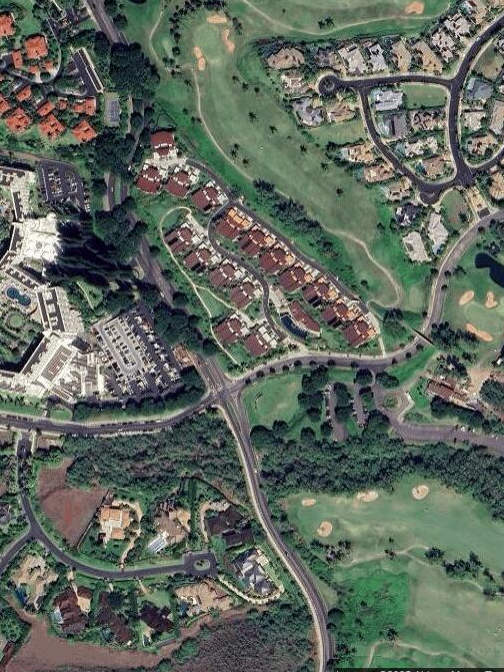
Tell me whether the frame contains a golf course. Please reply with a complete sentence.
Yes, there is a golf course in the image.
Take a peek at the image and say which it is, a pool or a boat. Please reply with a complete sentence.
I can see a pool in this picture.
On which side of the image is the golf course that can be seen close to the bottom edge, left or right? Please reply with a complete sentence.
The golf course that can be seen close to the bottom edge sits on the right side.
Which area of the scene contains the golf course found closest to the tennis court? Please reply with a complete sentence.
The golf course found closest to the tennis court appears toward the top of the photo.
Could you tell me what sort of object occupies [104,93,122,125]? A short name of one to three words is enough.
tennis court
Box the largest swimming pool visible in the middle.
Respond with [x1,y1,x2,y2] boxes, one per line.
[281,315,309,340]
